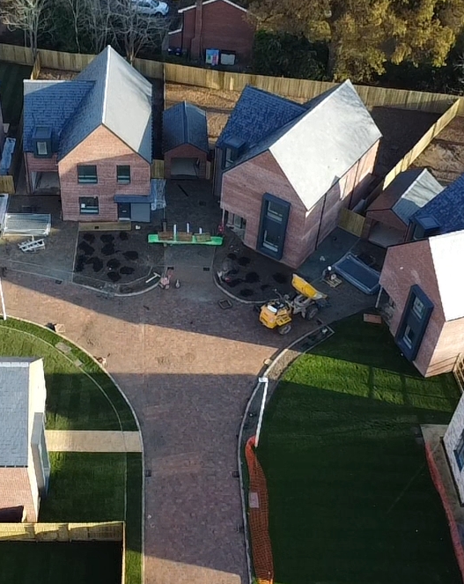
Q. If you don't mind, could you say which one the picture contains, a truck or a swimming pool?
truck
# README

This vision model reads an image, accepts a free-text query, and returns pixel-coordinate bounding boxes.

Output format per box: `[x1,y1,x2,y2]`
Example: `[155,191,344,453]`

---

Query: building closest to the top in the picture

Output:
[157,0,262,58]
